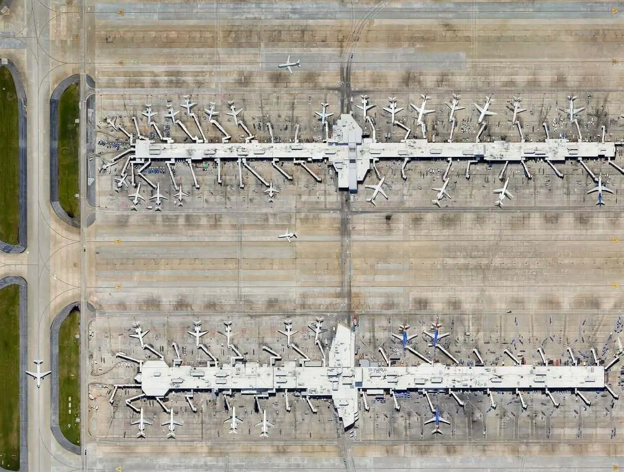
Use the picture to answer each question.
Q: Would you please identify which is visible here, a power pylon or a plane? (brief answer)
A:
plane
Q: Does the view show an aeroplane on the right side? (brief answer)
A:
Yes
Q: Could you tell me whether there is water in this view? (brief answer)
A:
No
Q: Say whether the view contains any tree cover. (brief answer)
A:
No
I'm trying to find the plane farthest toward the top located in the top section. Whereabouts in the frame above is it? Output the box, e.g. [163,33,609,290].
[277,55,300,73]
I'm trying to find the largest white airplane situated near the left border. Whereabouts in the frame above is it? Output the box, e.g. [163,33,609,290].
[25,360,51,387]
